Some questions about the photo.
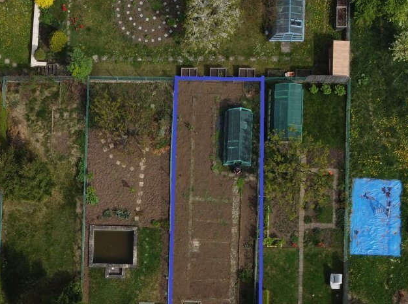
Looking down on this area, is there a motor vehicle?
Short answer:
No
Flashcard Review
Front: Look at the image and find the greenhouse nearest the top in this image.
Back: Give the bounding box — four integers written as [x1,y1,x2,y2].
[270,0,304,42]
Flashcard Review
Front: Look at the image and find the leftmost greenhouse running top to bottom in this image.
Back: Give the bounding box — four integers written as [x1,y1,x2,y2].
[225,106,252,167]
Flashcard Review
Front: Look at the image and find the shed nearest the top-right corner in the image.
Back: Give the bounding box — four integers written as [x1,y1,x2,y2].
[325,41,350,85]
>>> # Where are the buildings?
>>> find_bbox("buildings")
[225,106,252,167]
[270,0,304,42]
[272,78,303,146]
[325,41,350,85]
